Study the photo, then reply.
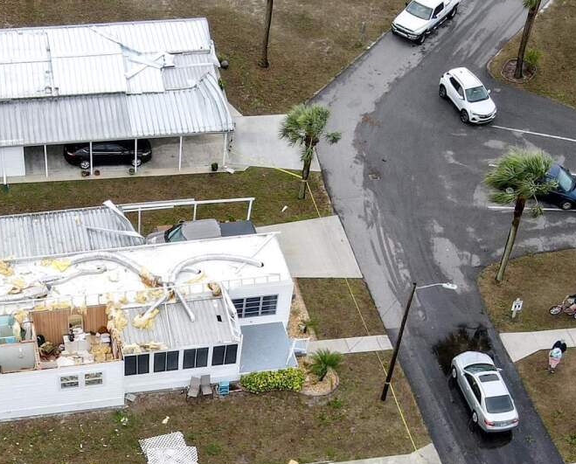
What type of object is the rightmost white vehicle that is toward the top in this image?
automobile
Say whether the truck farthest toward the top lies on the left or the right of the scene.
right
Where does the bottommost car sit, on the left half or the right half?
right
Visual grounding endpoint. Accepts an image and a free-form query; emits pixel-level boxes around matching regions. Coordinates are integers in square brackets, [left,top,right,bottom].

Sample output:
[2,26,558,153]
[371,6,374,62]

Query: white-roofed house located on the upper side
[0,16,234,191]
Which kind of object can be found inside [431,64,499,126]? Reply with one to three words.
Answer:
car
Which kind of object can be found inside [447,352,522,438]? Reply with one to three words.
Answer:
car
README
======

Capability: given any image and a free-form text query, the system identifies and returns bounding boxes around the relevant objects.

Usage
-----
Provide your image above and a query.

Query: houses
[0,197,319,420]
[0,16,234,191]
